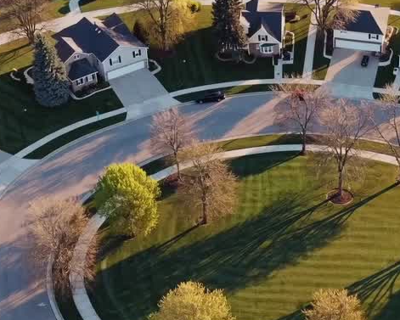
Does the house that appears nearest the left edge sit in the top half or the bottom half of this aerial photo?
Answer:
top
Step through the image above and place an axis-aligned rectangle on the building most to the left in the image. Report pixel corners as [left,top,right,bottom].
[51,16,150,92]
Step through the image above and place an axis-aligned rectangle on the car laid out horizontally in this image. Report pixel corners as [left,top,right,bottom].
[195,87,226,103]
